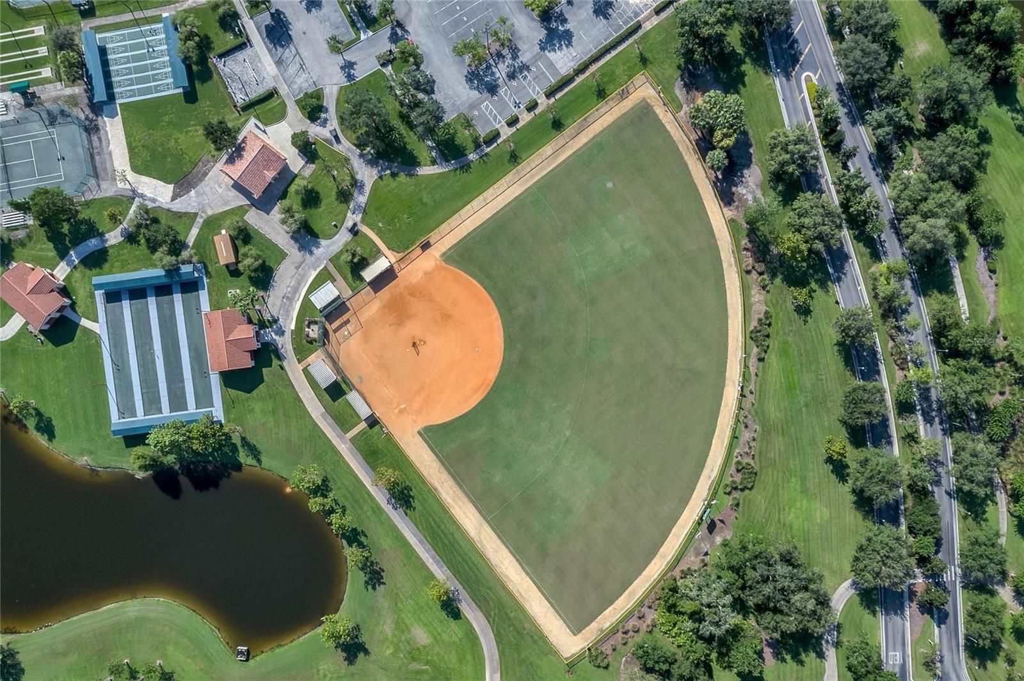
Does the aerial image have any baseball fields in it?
Yes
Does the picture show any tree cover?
Yes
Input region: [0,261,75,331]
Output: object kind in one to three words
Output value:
building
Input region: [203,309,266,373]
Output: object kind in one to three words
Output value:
building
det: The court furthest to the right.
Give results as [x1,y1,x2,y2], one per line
[213,42,276,105]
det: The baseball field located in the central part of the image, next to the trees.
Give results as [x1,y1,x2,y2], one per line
[324,74,741,659]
